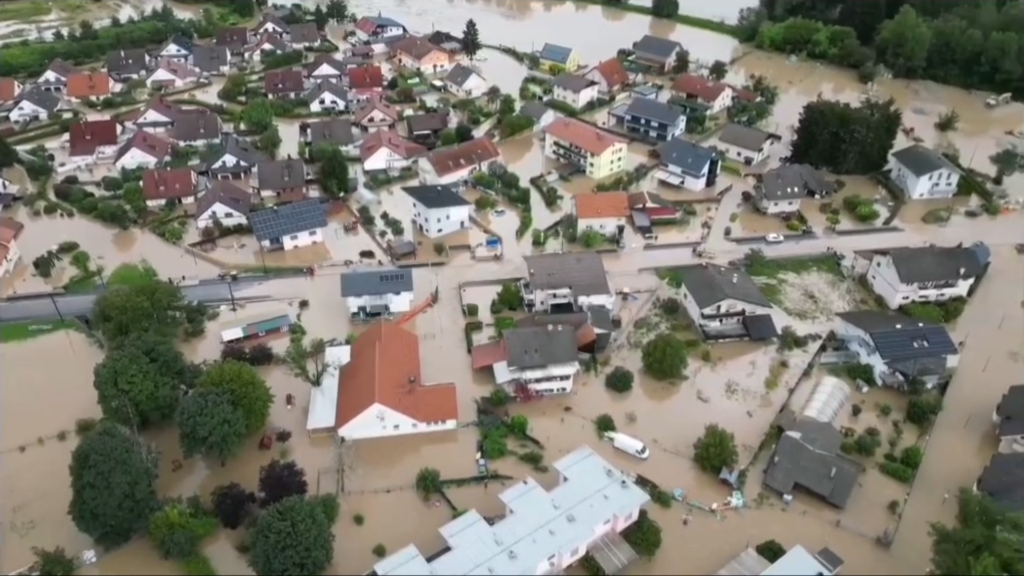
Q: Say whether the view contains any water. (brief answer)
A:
Yes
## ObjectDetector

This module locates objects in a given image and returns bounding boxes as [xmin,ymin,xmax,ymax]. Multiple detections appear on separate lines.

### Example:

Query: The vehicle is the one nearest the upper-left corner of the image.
[218,267,240,280]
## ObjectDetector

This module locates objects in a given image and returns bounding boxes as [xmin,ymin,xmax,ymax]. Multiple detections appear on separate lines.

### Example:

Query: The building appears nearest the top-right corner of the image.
[889,145,963,202]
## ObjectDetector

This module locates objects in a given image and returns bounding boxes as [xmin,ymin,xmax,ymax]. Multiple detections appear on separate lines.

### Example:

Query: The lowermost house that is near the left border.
[0,226,35,293]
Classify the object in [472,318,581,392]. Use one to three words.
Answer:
house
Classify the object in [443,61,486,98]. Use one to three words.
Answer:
house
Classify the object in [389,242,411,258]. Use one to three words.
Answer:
shed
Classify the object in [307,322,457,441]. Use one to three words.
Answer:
building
